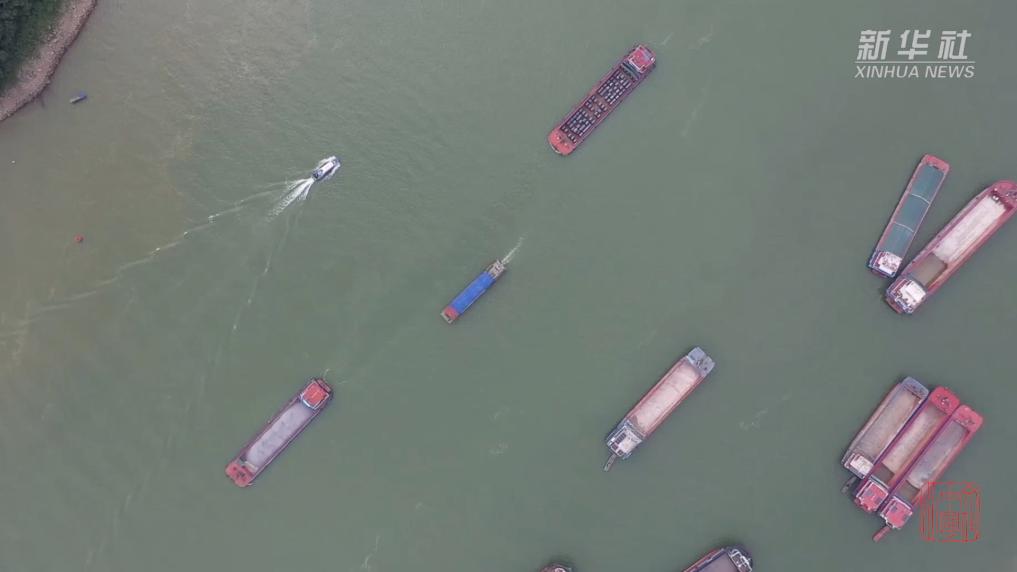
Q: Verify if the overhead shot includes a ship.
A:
Yes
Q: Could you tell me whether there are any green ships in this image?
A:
No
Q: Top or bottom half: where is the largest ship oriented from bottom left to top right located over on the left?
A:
bottom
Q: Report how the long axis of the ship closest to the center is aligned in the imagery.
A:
diagonally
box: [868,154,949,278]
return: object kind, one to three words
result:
ship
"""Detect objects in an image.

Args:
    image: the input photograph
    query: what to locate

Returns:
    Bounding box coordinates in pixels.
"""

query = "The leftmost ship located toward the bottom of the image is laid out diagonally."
[224,377,335,490]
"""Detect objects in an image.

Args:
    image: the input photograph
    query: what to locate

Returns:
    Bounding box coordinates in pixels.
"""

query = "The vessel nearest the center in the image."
[441,259,506,323]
